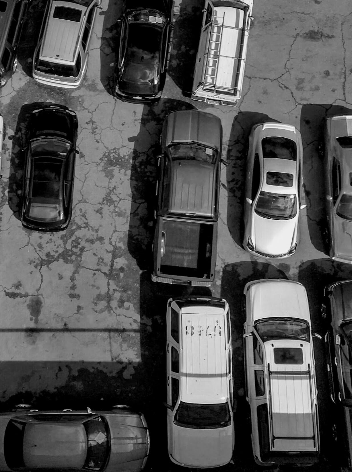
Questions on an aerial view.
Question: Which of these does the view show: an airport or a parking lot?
parking lot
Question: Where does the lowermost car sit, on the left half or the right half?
left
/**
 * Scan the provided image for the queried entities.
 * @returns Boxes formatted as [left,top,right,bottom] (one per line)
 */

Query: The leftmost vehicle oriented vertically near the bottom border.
[166,299,238,469]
